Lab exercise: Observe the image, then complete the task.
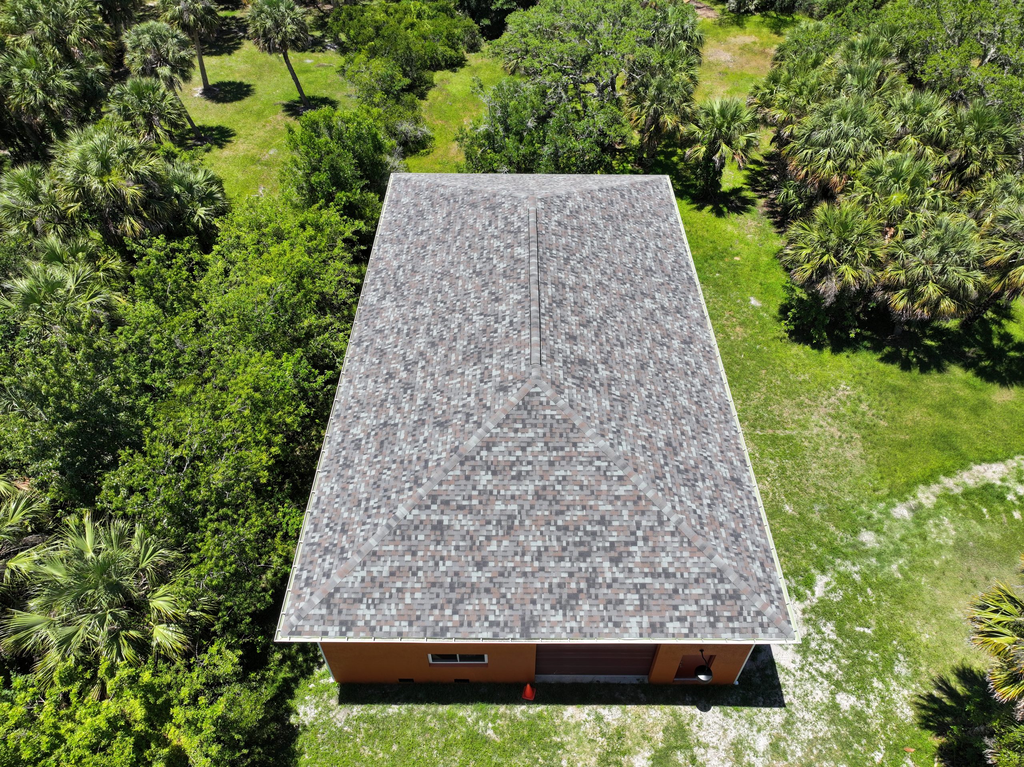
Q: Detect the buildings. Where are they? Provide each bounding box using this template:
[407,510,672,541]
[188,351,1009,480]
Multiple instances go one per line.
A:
[275,173,802,685]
